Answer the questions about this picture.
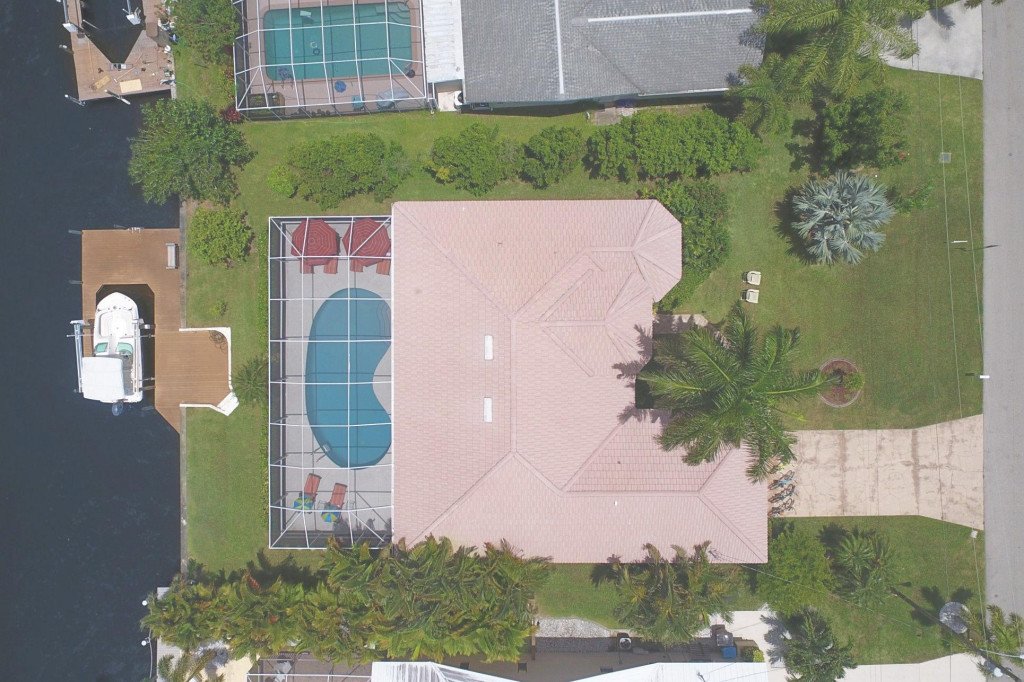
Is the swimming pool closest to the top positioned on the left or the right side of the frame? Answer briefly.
left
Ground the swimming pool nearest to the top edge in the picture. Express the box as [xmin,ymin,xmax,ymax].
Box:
[259,0,415,84]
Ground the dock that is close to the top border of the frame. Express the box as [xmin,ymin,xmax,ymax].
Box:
[70,0,173,103]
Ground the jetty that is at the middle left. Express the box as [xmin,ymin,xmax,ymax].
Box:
[81,229,230,433]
